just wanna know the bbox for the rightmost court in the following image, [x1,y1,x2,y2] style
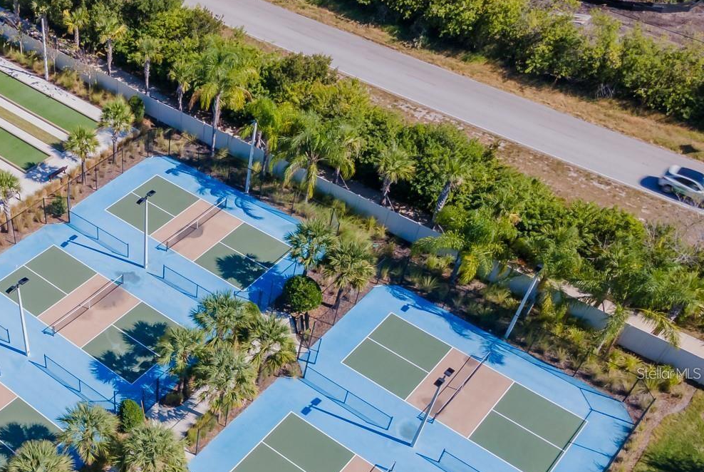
[343,314,585,472]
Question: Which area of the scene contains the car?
right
